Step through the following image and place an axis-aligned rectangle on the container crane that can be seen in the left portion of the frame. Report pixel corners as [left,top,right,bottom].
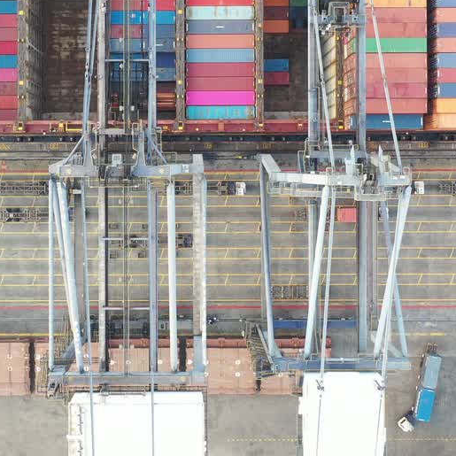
[25,0,218,456]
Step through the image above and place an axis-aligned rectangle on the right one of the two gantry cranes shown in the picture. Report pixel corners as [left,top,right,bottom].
[234,0,416,456]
